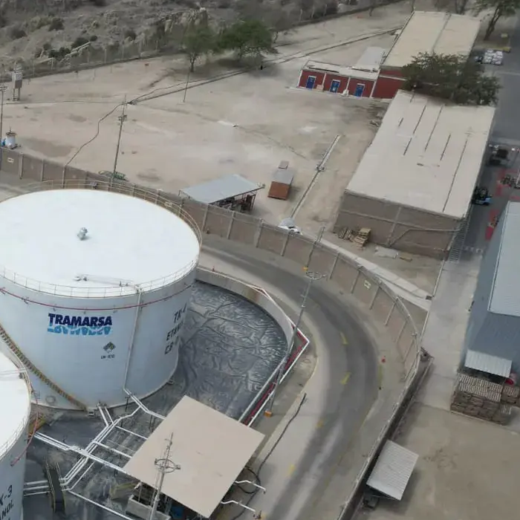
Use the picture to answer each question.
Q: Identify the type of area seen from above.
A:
industrial area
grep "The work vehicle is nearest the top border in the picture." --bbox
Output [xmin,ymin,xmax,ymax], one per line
[488,146,510,162]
